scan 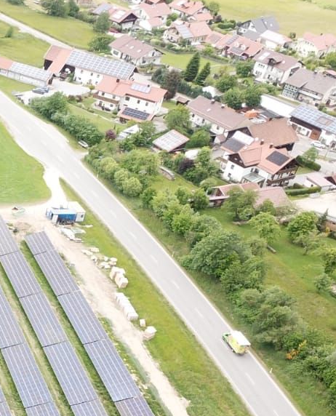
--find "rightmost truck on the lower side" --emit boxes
[225,333,254,358]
